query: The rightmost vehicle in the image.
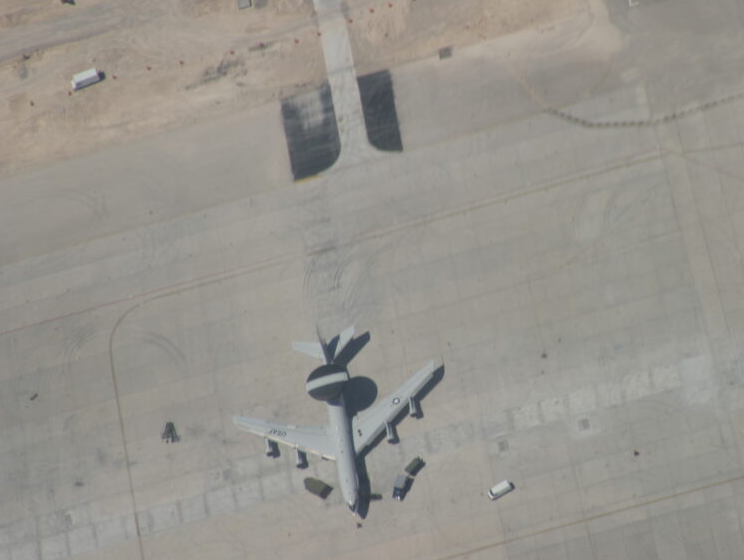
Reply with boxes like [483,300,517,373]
[489,479,514,501]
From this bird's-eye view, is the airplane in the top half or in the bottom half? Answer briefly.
bottom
